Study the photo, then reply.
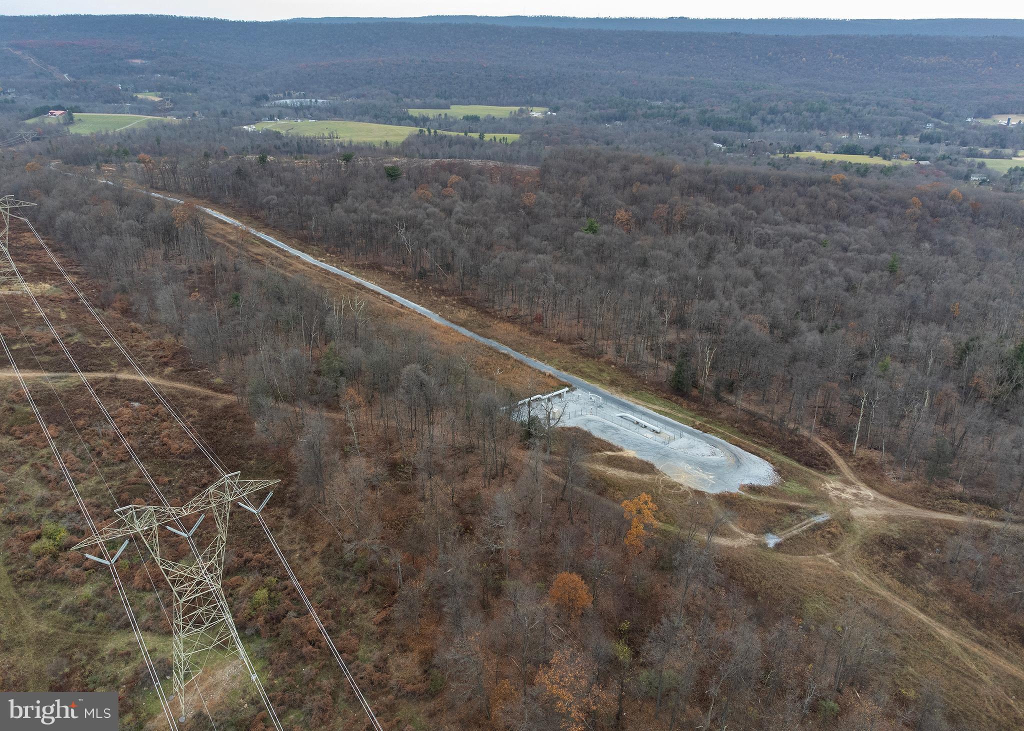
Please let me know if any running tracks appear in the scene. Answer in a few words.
No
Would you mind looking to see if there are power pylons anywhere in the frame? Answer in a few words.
Yes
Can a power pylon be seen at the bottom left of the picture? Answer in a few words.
Yes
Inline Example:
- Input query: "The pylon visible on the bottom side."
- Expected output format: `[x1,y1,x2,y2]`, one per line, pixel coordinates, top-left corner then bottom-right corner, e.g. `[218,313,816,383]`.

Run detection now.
[71,470,279,720]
